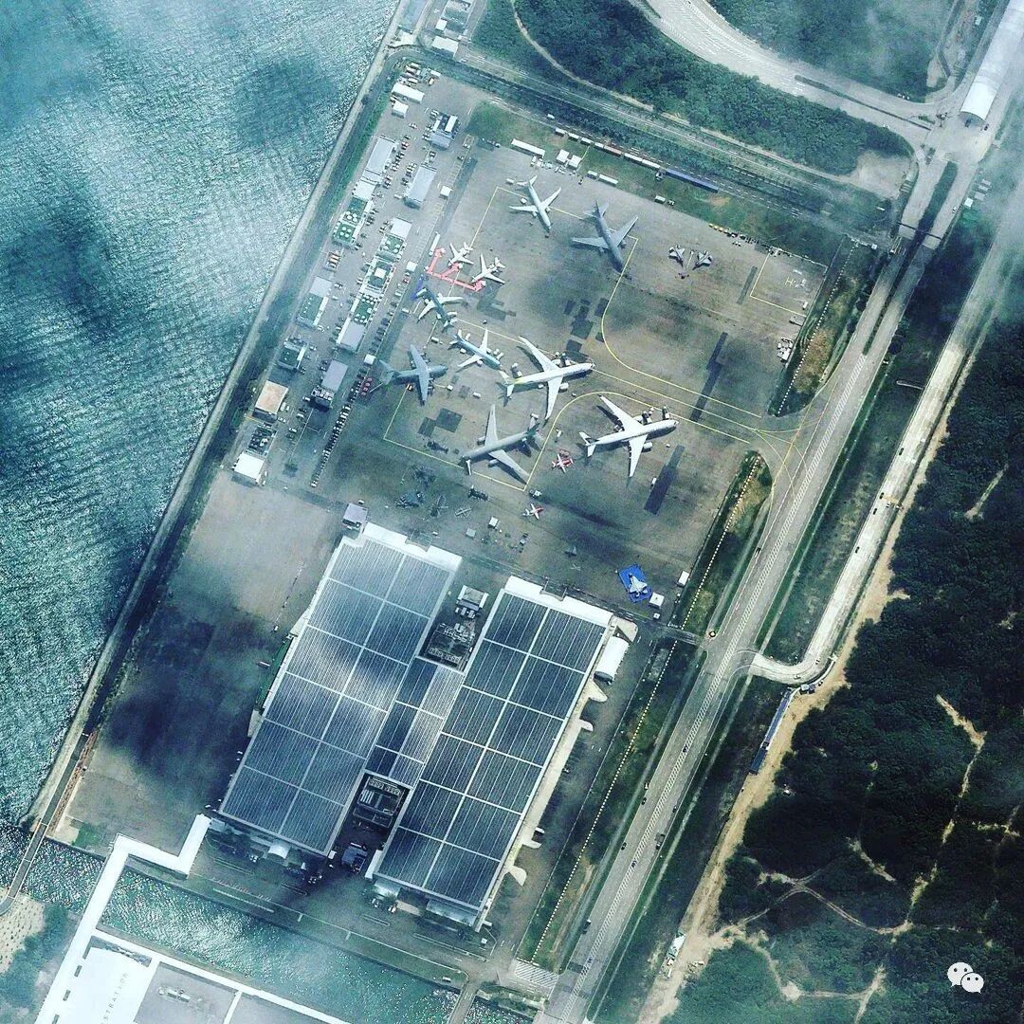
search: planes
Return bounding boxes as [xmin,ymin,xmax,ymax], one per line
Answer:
[503,338,594,415]
[670,245,686,266]
[419,286,463,327]
[522,503,543,519]
[451,505,475,517]
[449,239,475,265]
[693,250,711,270]
[514,177,565,230]
[565,546,577,558]
[382,344,447,399]
[472,250,507,282]
[582,394,679,478]
[461,404,546,478]
[627,574,646,598]
[573,200,641,272]
[449,328,500,368]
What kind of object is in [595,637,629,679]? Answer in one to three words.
hangar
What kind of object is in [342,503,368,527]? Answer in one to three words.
building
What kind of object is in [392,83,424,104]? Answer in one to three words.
tent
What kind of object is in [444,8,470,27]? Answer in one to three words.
shed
